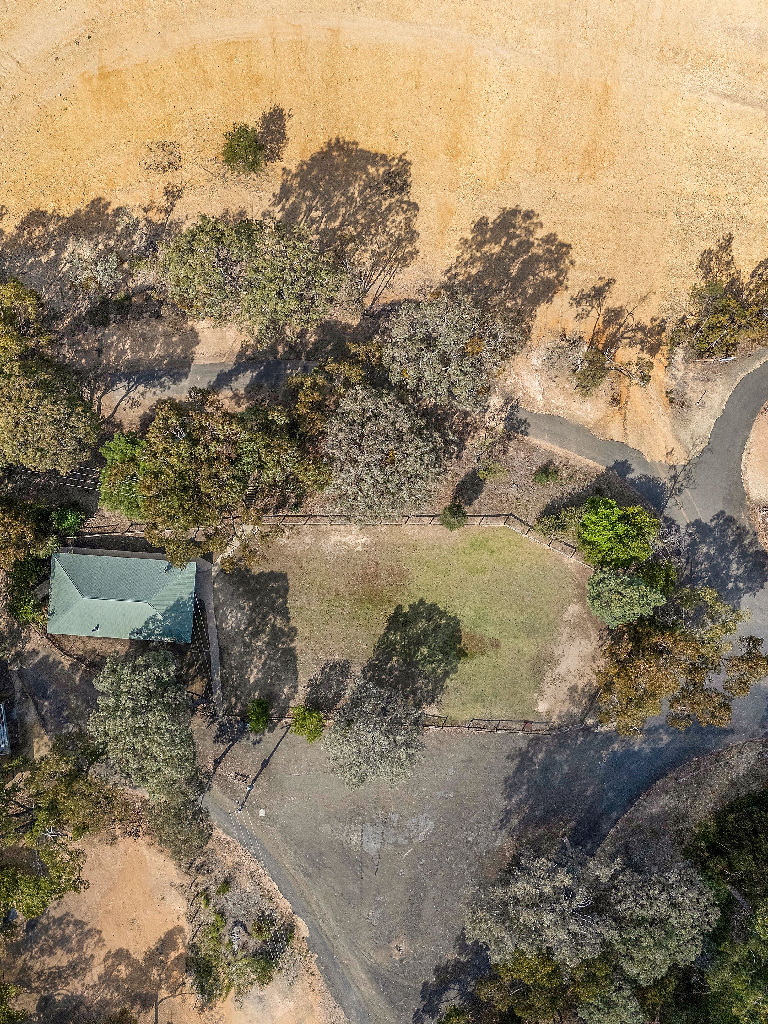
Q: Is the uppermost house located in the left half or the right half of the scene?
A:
left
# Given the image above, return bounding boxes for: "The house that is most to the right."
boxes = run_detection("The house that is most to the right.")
[46,552,198,643]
